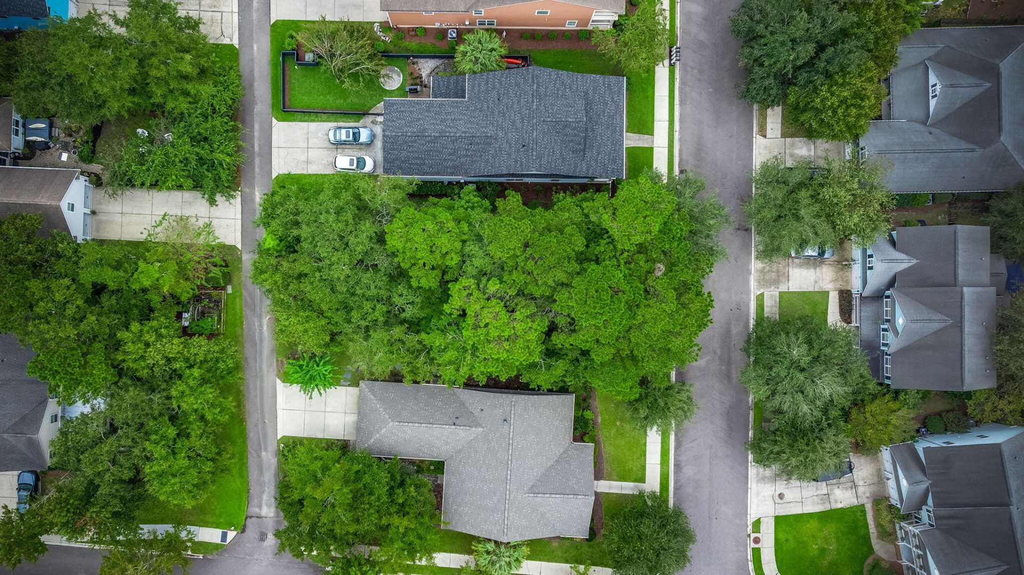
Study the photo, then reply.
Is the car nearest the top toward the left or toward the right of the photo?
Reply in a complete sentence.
The car nearest the top appears in the left half of the scene.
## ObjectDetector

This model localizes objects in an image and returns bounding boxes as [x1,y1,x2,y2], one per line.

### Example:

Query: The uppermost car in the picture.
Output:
[328,125,373,145]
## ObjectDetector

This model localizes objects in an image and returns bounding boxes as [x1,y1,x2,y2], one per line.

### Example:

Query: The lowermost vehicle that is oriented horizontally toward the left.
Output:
[333,153,375,173]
